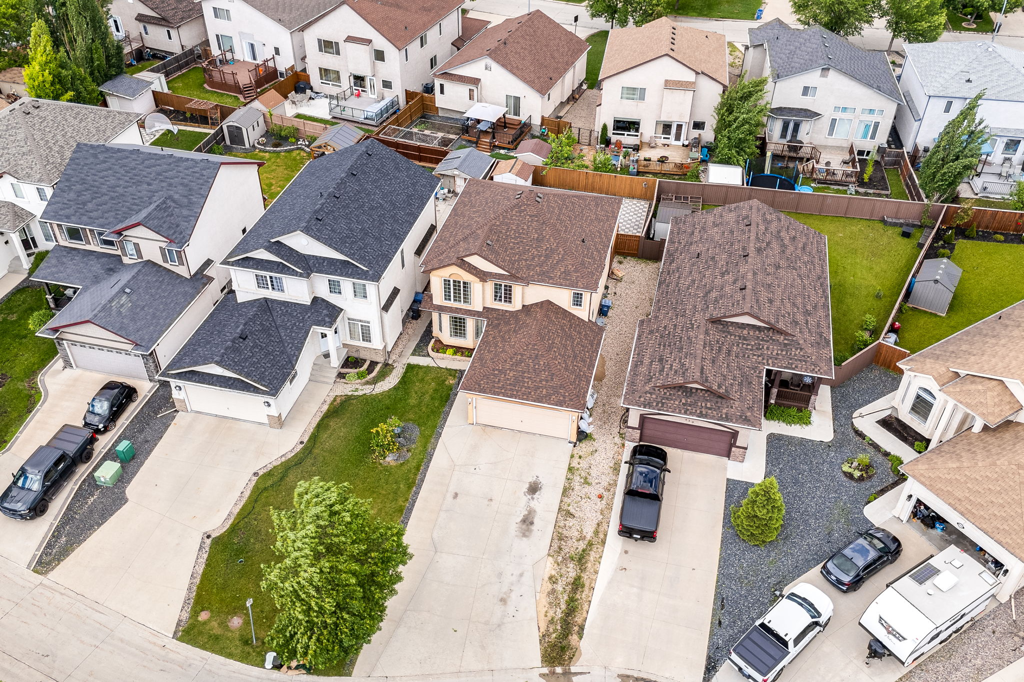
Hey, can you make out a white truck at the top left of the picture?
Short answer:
No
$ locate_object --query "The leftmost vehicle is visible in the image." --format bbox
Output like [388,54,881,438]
[0,425,94,528]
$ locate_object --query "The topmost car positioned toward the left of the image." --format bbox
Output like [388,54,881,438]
[76,375,139,433]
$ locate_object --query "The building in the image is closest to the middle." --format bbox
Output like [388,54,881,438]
[416,177,625,445]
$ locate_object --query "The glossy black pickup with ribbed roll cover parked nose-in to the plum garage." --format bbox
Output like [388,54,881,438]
[616,441,673,543]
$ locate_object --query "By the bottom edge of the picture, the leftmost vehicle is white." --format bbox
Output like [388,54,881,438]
[723,577,841,682]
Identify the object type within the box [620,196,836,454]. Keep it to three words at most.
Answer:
house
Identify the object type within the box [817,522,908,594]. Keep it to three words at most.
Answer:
car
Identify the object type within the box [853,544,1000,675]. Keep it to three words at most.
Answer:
trailer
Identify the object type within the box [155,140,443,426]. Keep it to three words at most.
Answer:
house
